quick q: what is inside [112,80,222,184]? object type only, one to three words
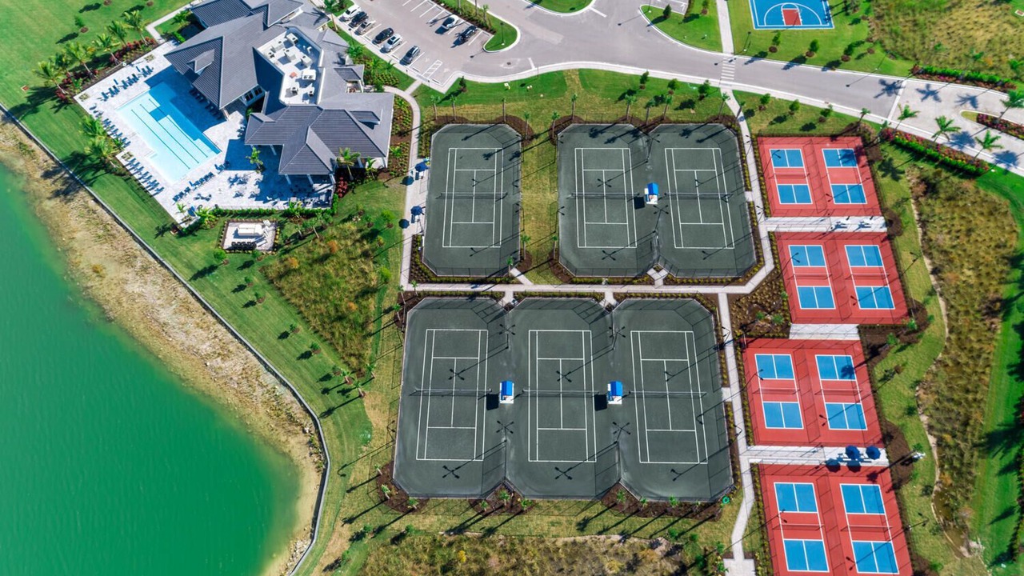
swimming pool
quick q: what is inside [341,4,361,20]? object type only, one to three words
car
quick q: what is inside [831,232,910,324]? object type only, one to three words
sports court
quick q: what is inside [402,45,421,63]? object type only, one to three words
car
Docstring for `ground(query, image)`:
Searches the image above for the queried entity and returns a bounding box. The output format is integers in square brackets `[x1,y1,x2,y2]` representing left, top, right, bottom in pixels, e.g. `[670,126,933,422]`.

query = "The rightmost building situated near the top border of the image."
[164,0,395,186]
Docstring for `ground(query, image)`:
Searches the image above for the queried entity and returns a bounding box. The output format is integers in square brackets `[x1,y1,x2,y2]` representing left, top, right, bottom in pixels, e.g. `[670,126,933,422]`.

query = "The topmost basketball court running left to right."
[749,0,835,29]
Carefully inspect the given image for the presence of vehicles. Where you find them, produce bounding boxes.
[356,19,377,34]
[439,14,459,29]
[350,10,370,27]
[402,45,421,63]
[458,25,476,41]
[341,4,361,20]
[374,28,394,42]
[382,34,403,51]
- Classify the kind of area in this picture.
sports ground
